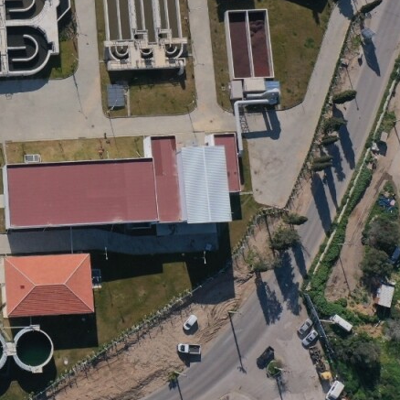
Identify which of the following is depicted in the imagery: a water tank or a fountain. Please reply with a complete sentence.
There is a water tank in the scene.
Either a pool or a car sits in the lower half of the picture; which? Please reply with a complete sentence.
You can see a car in the lower half of the picture.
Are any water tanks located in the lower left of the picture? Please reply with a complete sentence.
Yes, in the lower left of the picture there is a water tank.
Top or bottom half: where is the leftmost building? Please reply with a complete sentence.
You can find the leftmost building in the bottom half.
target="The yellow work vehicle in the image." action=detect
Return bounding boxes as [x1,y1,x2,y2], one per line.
[318,369,336,383]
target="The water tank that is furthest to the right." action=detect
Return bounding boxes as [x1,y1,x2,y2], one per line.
[9,325,54,374]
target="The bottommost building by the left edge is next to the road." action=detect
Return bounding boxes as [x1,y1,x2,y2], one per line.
[0,254,101,317]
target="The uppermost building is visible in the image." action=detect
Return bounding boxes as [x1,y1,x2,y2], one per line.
[2,134,241,254]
